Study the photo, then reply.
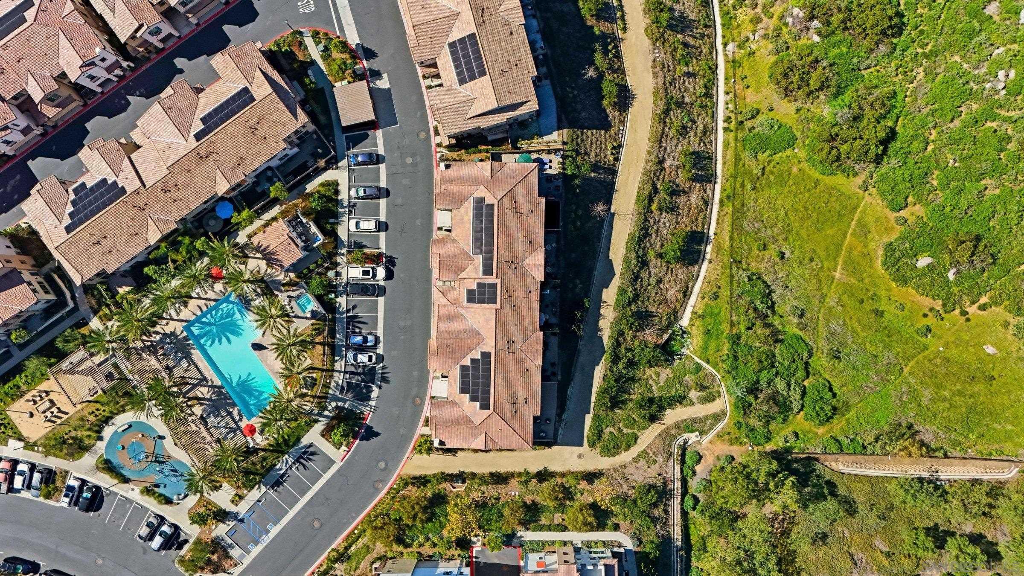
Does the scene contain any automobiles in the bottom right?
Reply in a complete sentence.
No, there is no automobile in the bottom right.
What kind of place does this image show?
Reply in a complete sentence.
This looks like a residential area.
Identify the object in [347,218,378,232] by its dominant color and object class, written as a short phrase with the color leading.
white car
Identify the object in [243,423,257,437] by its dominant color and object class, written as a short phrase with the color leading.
red umbrella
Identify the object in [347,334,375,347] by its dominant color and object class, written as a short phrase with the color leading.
blue vehicle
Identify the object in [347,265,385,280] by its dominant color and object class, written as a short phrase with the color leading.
white vehicle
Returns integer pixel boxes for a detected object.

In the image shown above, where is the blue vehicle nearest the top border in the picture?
[348,151,376,165]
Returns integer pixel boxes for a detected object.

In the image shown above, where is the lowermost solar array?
[459,352,490,408]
